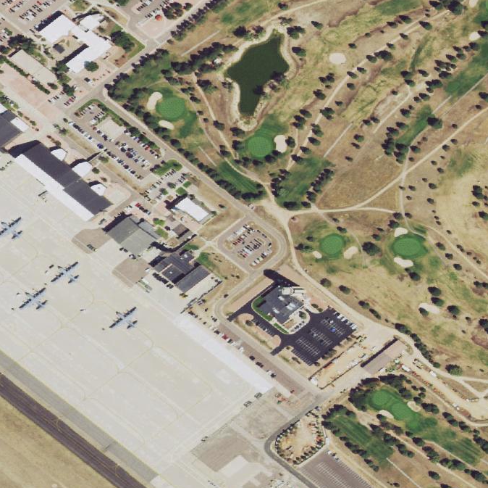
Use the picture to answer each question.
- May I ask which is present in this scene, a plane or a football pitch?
plane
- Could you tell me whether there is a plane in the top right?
No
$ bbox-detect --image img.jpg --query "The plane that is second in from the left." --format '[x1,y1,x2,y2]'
[20,289,50,311]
